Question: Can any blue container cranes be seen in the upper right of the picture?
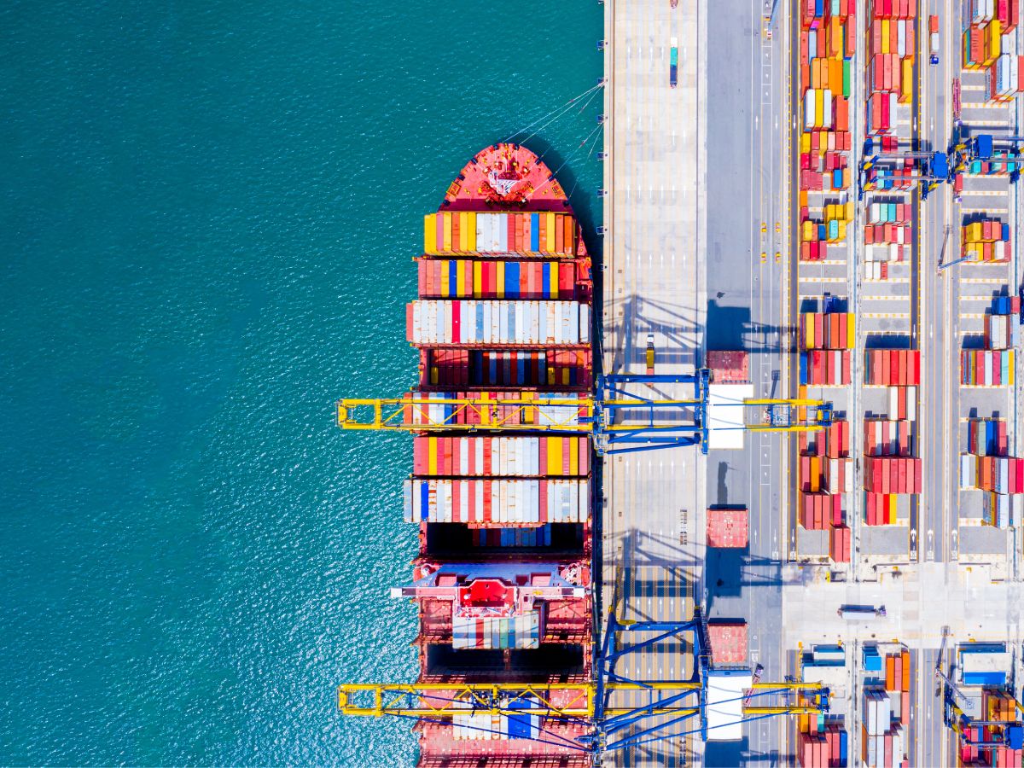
Yes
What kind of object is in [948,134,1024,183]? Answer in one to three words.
container crane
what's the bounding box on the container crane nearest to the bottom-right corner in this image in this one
[947,691,1024,749]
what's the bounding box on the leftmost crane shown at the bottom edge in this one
[334,598,835,753]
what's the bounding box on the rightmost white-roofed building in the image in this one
[955,645,1010,684]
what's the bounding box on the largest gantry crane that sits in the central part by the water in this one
[334,364,835,464]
